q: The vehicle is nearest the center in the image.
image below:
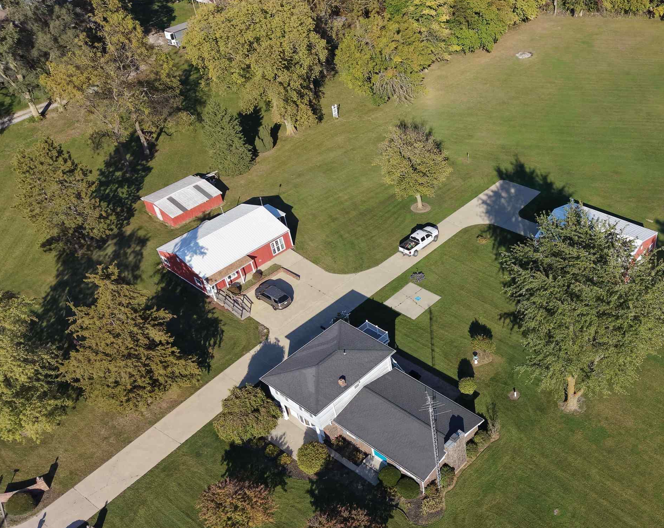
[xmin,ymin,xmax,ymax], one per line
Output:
[253,284,291,310]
